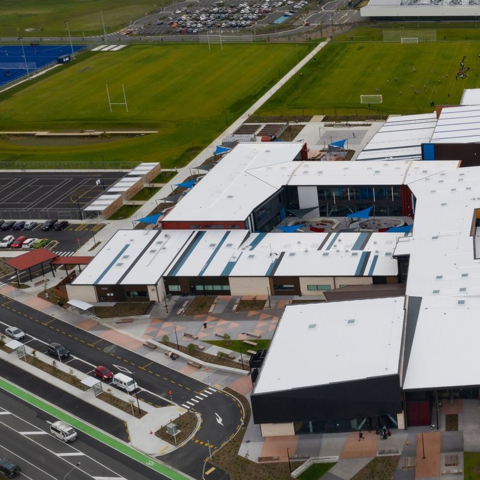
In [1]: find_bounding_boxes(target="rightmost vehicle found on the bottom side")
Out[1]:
[110,370,139,391]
